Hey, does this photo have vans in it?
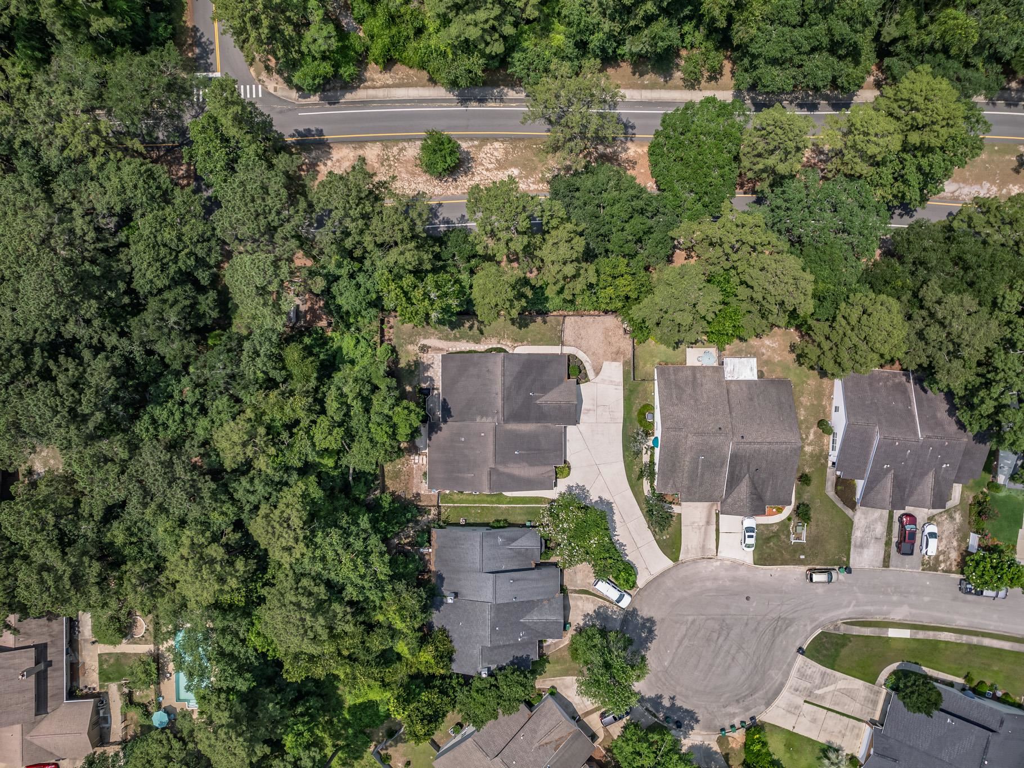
Yes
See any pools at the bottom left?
Yes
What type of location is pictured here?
residential area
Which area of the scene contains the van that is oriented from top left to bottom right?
bottom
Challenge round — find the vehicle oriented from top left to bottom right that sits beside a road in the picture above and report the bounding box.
[592,577,630,609]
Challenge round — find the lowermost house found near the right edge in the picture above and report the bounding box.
[847,676,1024,768]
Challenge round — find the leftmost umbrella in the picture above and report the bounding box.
[153,708,171,726]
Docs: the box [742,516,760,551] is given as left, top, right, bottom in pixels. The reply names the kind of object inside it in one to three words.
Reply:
car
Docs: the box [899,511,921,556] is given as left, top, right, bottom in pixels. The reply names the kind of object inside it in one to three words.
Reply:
truck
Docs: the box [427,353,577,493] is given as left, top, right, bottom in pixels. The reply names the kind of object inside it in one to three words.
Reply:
house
